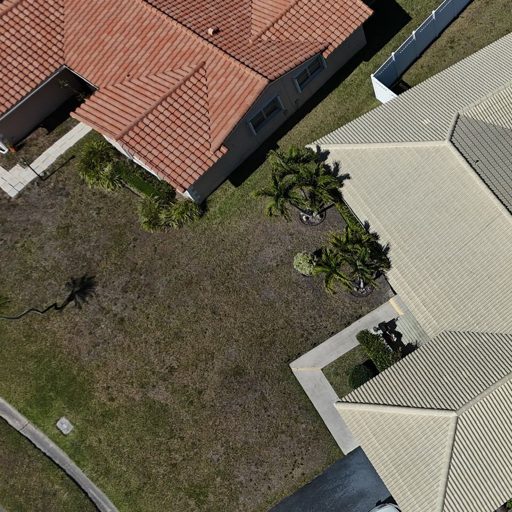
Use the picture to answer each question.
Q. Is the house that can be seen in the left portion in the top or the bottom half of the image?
top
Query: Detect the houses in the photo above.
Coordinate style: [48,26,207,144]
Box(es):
[307,32,512,512]
[0,0,375,205]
